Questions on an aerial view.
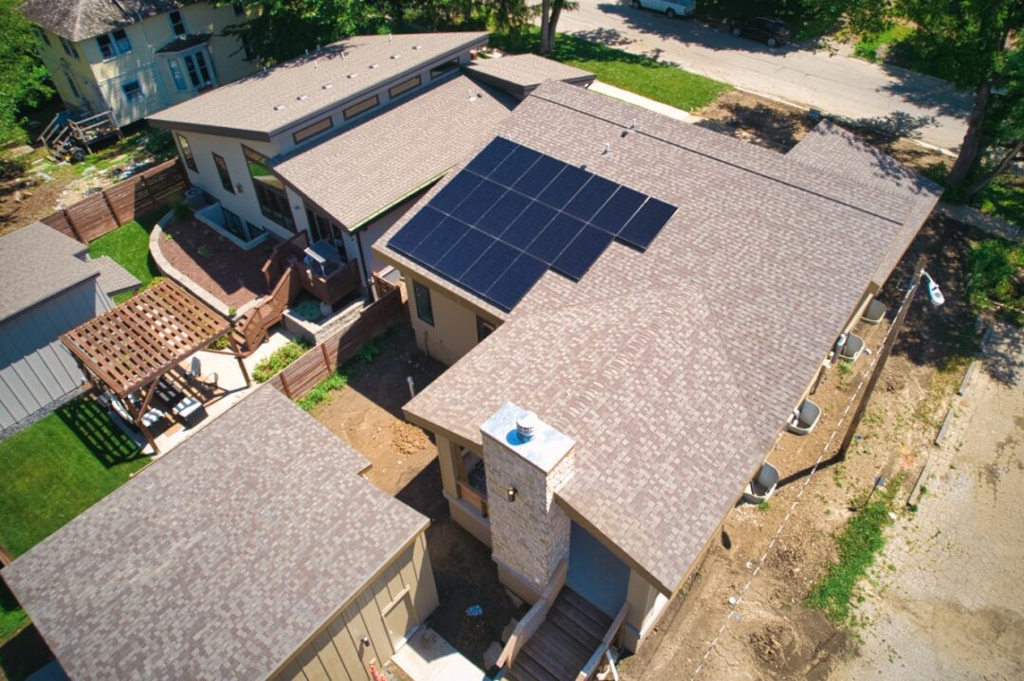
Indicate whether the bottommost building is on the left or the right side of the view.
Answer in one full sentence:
It is on the left.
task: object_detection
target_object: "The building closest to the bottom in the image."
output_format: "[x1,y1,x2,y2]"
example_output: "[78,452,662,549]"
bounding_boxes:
[0,384,439,681]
